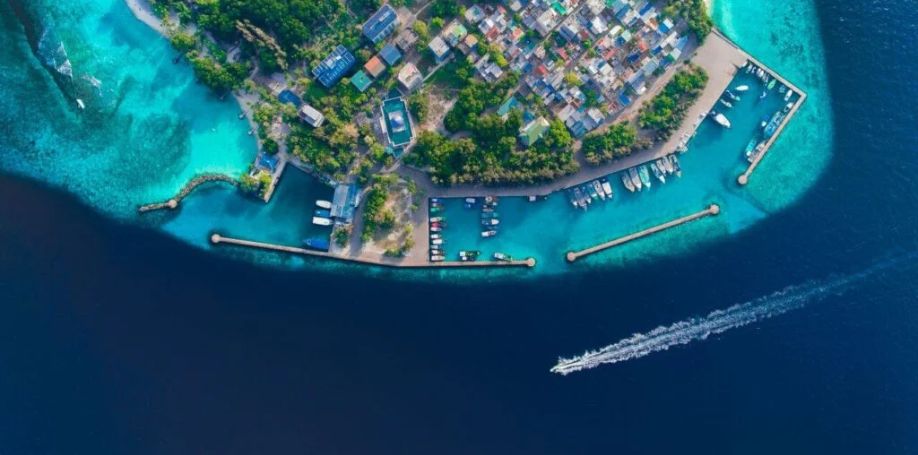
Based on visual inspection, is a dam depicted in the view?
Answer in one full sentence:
No, there appears to be no dam in this shot.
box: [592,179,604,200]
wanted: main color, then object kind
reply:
white boat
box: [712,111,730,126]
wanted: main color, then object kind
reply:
white boat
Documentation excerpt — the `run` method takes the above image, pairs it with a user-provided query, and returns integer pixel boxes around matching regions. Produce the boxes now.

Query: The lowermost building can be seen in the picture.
[330,183,364,225]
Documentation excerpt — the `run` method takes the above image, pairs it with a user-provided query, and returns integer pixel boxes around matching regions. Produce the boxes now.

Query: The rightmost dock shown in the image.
[732,42,806,188]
